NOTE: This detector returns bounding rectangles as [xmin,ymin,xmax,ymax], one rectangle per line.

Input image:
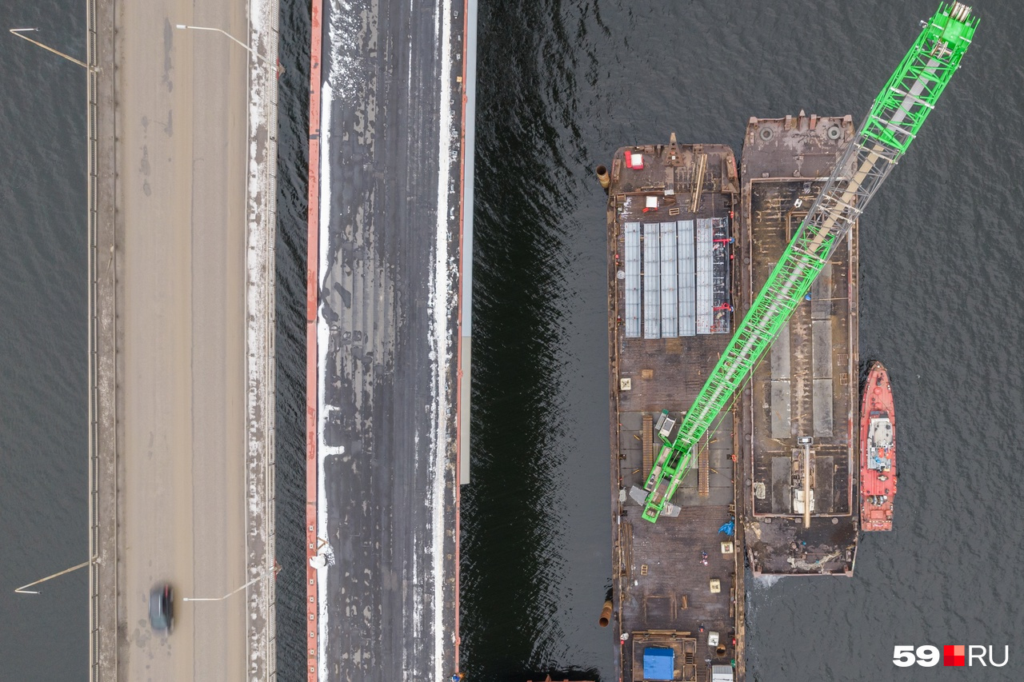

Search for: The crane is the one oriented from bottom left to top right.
[629,0,981,523]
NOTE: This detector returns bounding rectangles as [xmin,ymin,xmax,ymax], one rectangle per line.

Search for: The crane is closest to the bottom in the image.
[792,437,815,527]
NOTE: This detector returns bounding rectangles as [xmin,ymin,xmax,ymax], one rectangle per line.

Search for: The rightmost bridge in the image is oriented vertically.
[307,0,480,682]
